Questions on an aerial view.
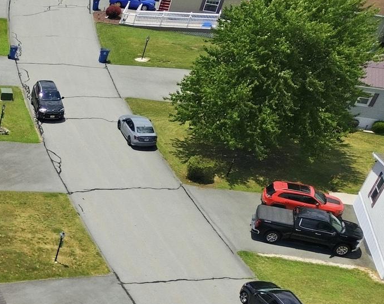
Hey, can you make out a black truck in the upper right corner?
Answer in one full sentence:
No, the scene shows no black truck in the upper right corner.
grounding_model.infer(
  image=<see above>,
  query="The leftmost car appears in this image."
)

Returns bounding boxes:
[31,77,66,120]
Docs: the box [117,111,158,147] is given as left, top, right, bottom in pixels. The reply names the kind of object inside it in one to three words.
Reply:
car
